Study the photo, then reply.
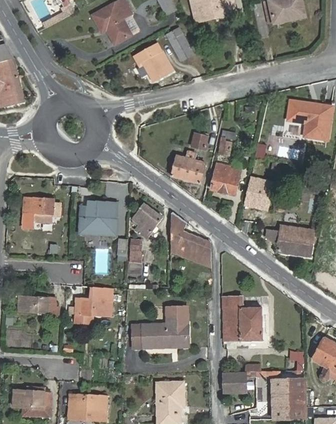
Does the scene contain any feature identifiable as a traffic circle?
Yes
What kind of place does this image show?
residential area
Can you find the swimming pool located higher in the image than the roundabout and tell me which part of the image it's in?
top left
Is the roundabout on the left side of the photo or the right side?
left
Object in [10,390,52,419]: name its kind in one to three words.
house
